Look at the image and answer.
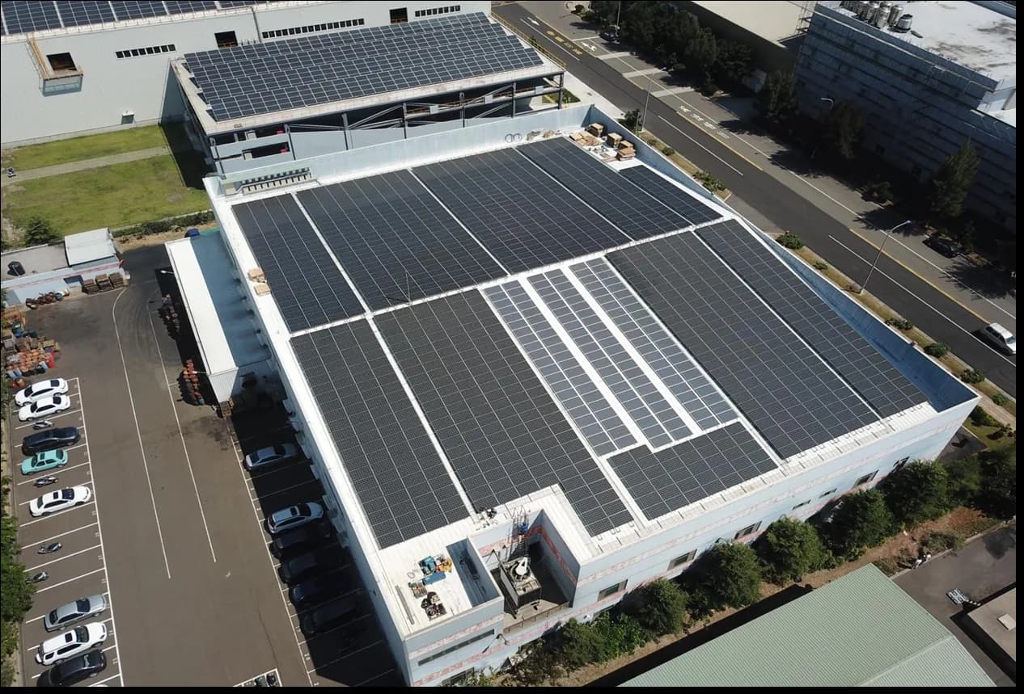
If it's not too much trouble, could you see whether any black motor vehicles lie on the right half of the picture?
Yes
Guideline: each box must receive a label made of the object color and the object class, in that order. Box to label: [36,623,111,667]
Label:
white car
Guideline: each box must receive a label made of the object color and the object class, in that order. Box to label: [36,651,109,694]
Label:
black car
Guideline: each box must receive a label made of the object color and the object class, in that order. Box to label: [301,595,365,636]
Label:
black car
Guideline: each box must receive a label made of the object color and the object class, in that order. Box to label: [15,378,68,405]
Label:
white car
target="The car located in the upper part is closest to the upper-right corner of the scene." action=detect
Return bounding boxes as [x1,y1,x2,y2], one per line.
[924,235,961,257]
